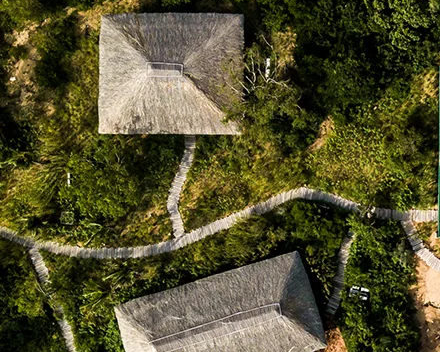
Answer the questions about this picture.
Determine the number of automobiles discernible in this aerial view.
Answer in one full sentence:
The count of automobiles is 0.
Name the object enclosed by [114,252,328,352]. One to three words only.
shed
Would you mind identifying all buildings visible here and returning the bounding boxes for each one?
[98,13,244,135]
[114,252,328,352]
